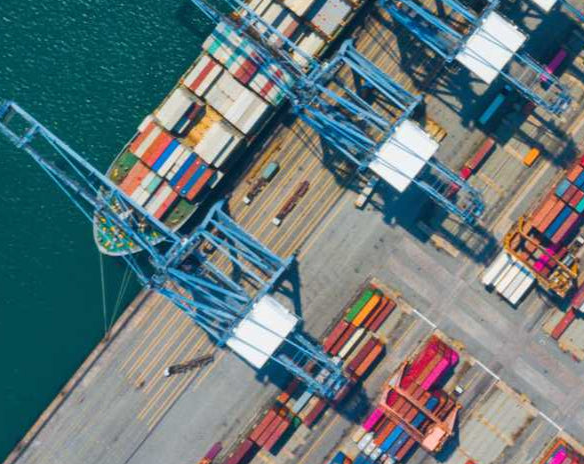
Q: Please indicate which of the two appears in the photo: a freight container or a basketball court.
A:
freight container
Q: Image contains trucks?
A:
Yes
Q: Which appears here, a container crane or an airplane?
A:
container crane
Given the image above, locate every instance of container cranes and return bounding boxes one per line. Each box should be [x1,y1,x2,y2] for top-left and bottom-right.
[496,213,578,297]
[185,0,496,227]
[376,360,459,452]
[0,99,359,399]
[374,0,581,120]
